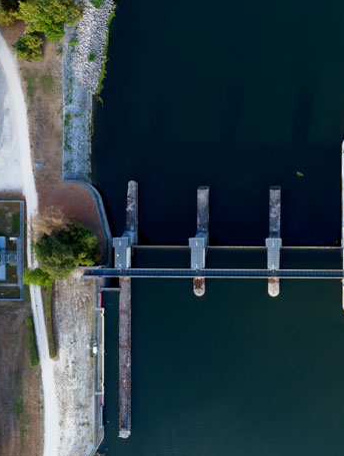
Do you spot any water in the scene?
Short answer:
Yes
